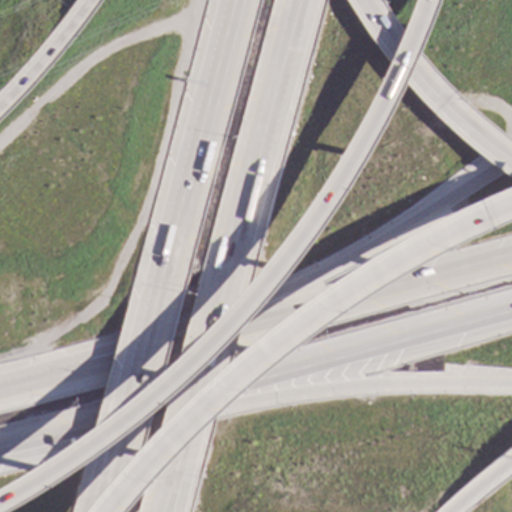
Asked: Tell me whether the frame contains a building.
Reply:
No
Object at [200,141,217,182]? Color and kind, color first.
white vehicle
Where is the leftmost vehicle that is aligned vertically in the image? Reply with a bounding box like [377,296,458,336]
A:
[160,224,176,266]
